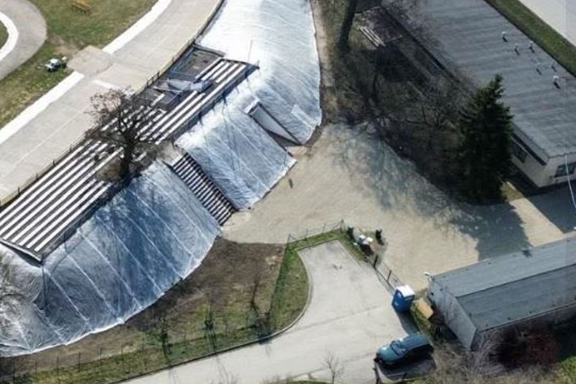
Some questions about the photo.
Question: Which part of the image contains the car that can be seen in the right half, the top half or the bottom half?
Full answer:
The car that can be seen in the right half is in the bottom half of the image.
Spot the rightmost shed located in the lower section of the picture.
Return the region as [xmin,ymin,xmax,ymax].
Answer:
[420,235,576,353]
